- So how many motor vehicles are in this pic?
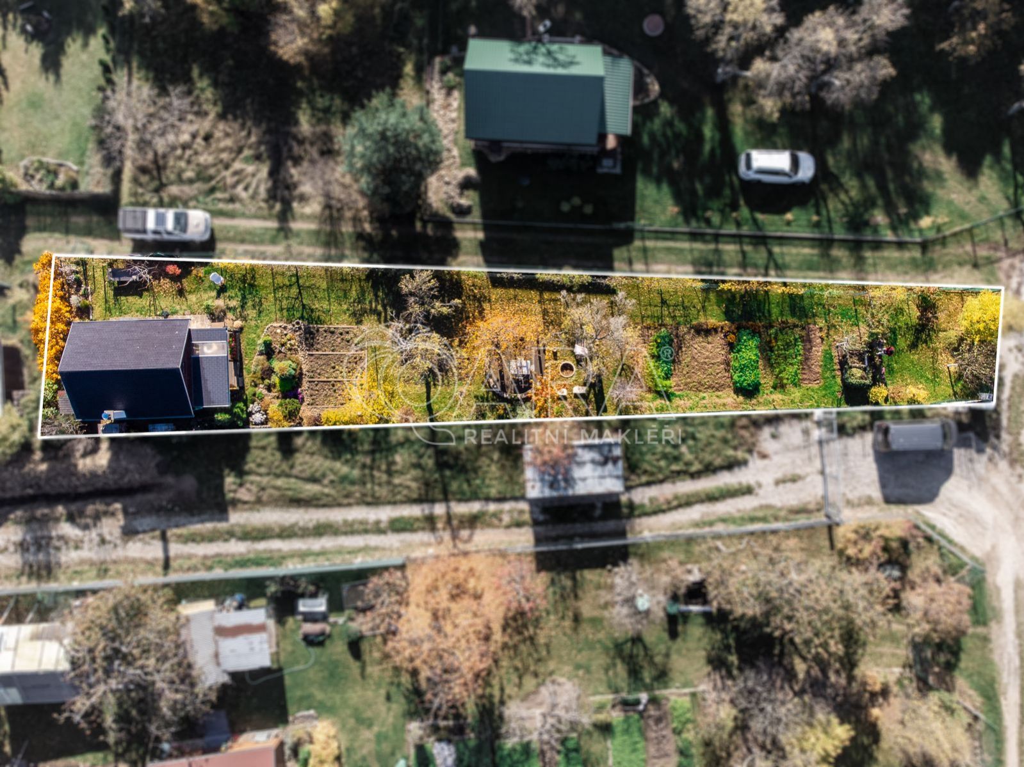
3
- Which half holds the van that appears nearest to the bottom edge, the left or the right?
right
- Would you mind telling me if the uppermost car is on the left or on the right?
right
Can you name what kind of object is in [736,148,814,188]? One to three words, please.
car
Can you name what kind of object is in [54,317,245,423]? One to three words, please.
house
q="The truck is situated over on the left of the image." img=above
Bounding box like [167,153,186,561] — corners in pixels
[116,205,214,244]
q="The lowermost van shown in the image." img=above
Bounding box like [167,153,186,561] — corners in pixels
[871,417,957,455]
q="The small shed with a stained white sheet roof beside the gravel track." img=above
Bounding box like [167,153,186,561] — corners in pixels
[523,438,625,500]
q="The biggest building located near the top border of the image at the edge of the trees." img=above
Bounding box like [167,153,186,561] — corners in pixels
[464,37,636,159]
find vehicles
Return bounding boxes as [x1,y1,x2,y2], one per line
[736,148,814,188]
[116,205,214,244]
[871,417,957,455]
